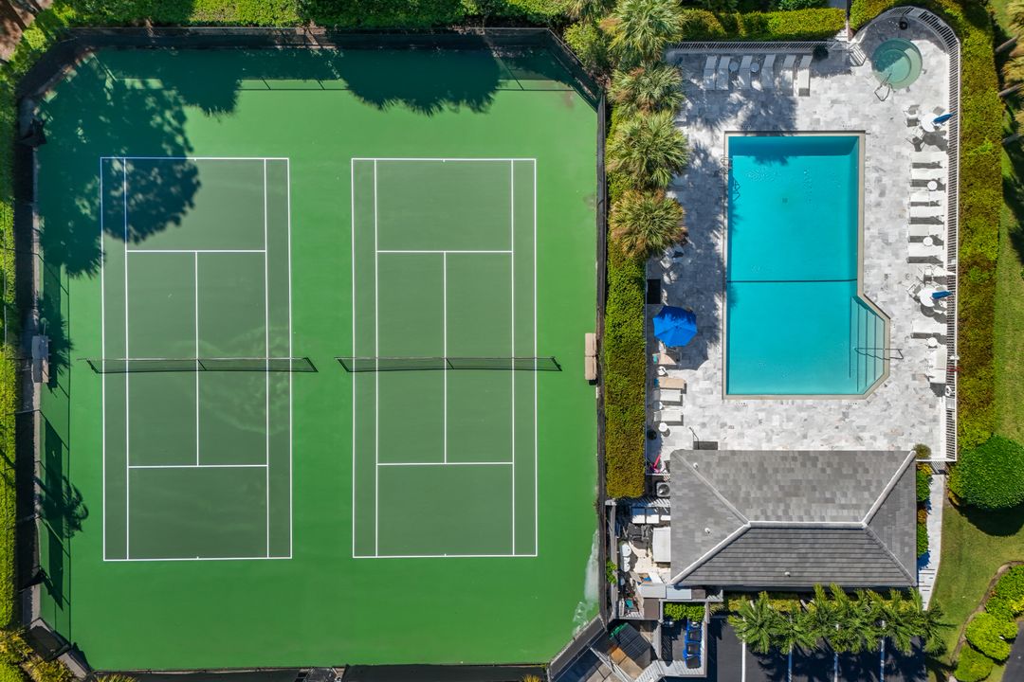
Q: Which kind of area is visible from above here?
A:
sports ground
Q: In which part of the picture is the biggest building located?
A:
bottom right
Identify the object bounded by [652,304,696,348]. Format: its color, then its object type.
blue umbrella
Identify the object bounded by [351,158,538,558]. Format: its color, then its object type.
green tennis court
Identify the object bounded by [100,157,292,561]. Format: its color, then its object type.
green tennis court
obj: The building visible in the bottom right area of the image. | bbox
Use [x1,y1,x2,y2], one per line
[669,449,919,586]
